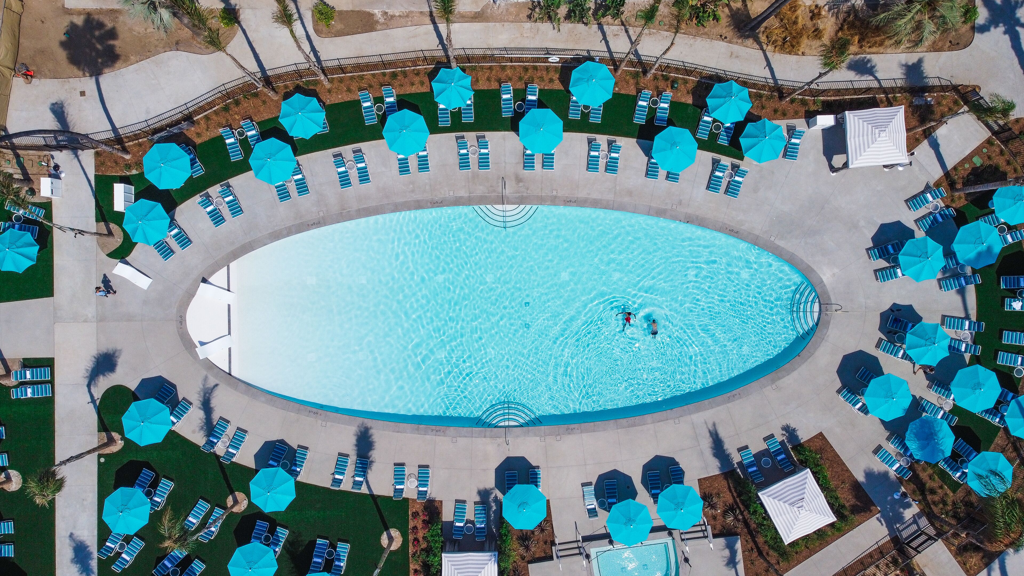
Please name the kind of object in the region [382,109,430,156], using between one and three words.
umbrella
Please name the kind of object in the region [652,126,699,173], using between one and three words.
umbrella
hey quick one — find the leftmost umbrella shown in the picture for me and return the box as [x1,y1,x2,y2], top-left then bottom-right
[0,228,42,273]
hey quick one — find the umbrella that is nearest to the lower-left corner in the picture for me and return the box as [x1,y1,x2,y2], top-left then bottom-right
[102,487,151,535]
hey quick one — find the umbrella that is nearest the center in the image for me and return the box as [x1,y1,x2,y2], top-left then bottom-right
[519,109,563,153]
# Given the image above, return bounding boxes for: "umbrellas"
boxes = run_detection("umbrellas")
[964,452,1012,497]
[0,228,42,273]
[606,499,653,546]
[502,484,547,530]
[864,373,912,421]
[740,118,786,163]
[123,199,171,246]
[249,137,297,185]
[707,80,751,124]
[951,364,1000,413]
[250,467,295,513]
[1002,396,1024,440]
[988,185,1024,226]
[228,540,278,576]
[123,398,172,446]
[569,61,615,107]
[898,236,945,282]
[143,142,191,189]
[279,93,325,140]
[652,126,699,173]
[657,484,703,530]
[102,487,151,535]
[382,109,430,156]
[906,415,954,463]
[431,67,474,110]
[905,322,951,366]
[953,220,1002,269]
[519,109,563,153]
